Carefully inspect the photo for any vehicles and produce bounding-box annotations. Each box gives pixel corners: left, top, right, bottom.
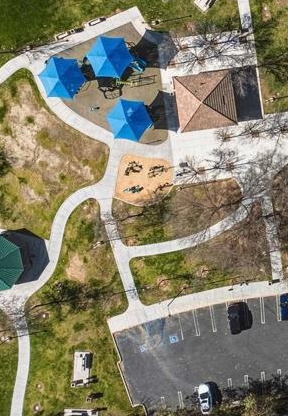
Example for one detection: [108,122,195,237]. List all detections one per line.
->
[195,385,212,416]
[225,303,242,337]
[277,294,288,323]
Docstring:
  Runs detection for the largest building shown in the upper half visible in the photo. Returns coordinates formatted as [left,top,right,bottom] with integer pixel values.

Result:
[172,69,237,132]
